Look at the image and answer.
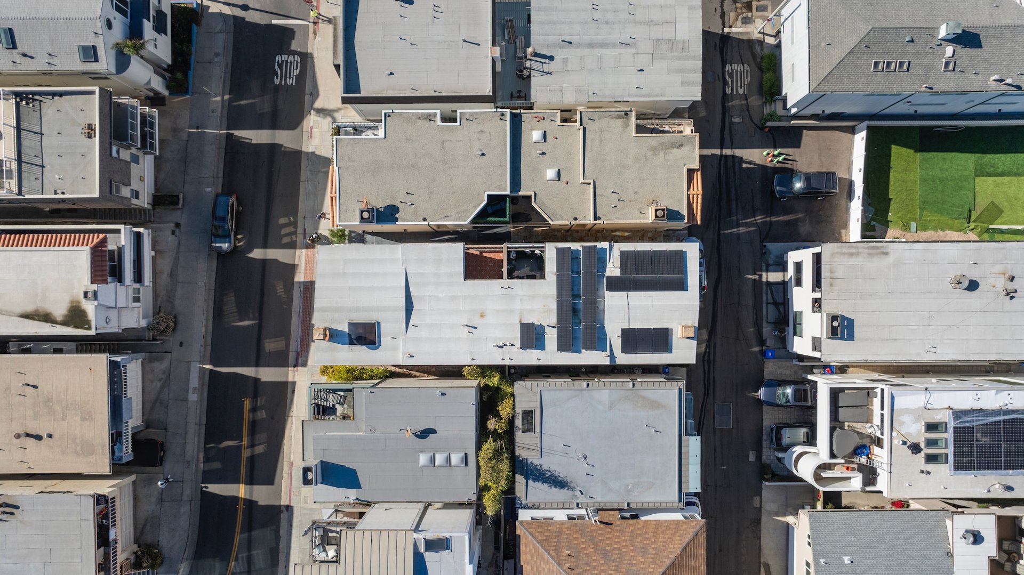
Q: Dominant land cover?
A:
buildings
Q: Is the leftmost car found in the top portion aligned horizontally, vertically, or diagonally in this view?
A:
vertically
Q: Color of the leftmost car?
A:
black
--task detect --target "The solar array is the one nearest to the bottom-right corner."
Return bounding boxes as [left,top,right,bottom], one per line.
[951,418,1024,470]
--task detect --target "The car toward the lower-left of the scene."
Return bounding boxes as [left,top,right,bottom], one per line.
[127,438,176,467]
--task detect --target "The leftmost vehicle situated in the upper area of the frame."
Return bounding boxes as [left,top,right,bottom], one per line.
[210,194,242,254]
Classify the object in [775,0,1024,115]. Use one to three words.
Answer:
house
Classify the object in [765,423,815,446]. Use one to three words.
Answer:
car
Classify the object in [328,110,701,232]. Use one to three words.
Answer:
house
